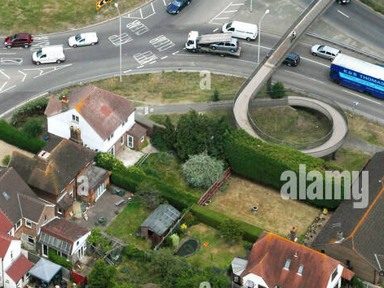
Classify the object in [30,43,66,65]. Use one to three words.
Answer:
vehicle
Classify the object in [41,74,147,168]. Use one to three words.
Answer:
house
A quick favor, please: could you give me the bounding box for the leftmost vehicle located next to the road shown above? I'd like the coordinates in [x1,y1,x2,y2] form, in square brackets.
[3,29,34,46]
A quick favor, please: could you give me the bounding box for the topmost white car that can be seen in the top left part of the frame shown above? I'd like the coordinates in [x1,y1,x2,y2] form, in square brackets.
[69,30,98,46]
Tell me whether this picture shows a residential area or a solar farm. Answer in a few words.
residential area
